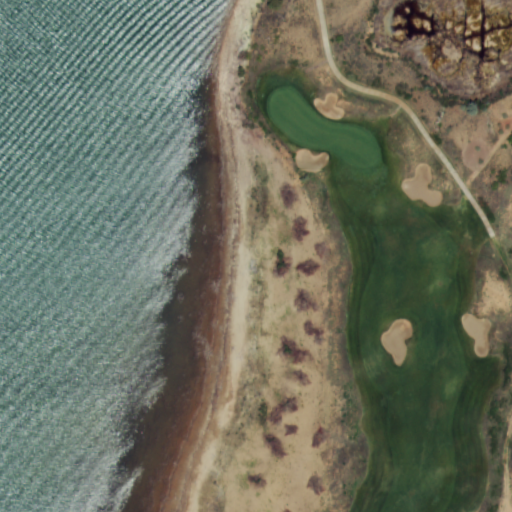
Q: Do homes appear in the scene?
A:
No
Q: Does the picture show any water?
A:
Yes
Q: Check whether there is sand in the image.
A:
Yes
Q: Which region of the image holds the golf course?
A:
right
